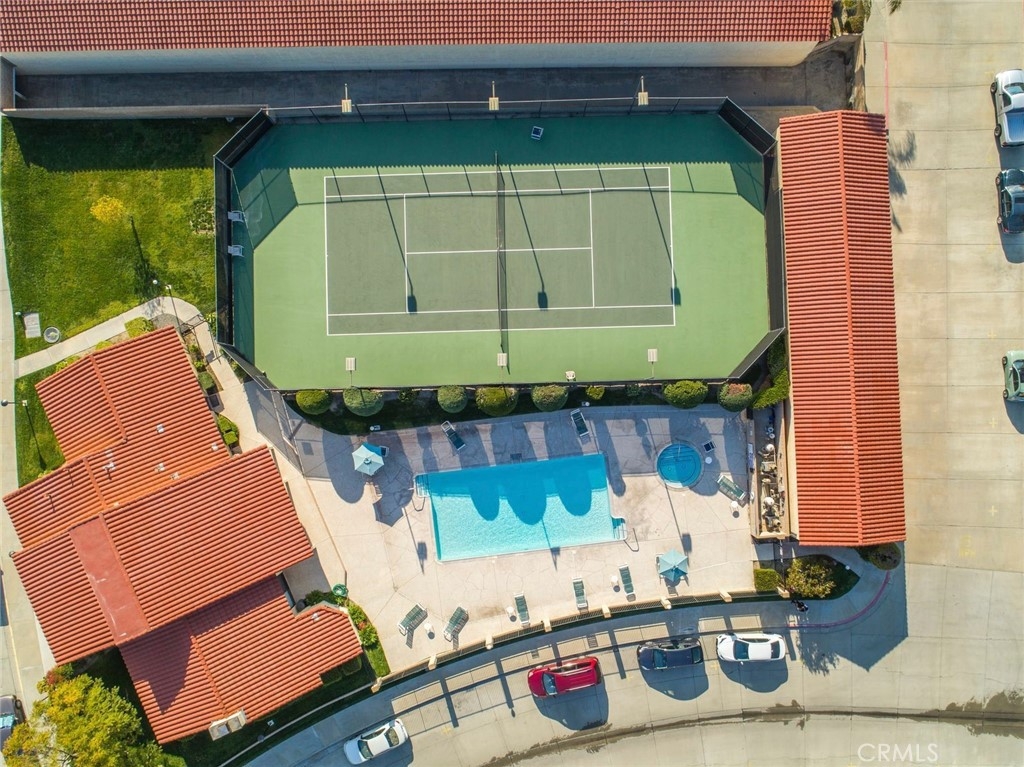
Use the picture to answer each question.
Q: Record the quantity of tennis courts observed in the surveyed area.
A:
1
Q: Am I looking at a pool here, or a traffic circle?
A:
pool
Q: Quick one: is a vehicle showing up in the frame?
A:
Yes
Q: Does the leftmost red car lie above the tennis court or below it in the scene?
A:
below it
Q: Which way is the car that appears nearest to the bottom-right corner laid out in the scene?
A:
horizontally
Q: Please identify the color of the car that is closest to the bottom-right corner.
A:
white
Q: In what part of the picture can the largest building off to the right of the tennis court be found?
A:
right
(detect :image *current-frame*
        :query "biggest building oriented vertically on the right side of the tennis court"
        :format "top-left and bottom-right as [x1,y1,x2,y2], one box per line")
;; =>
[772,106,906,548]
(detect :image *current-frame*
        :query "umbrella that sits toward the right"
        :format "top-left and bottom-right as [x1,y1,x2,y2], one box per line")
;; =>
[657,547,687,581]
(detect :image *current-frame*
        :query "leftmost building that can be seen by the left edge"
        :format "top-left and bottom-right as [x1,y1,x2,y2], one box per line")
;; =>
[1,326,360,745]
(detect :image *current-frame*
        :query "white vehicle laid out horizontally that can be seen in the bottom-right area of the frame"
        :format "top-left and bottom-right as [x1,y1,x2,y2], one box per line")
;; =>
[715,630,786,664]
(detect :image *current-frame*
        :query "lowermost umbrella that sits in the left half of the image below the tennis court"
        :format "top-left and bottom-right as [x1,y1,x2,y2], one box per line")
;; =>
[354,442,385,474]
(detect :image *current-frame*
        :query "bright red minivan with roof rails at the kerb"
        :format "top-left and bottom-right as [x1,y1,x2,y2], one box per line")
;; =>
[529,655,602,698]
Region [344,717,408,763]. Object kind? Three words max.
car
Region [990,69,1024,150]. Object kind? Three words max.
truck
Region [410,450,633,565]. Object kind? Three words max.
swimming pool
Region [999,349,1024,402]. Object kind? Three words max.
car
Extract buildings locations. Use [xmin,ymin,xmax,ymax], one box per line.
[772,106,906,548]
[1,326,360,745]
[0,0,834,75]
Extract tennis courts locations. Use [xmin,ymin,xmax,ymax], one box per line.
[231,118,769,396]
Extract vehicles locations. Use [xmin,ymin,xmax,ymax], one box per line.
[344,717,408,763]
[996,170,1024,233]
[529,655,602,698]
[990,69,1024,150]
[636,636,704,671]
[0,692,22,764]
[999,349,1024,402]
[715,630,786,664]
